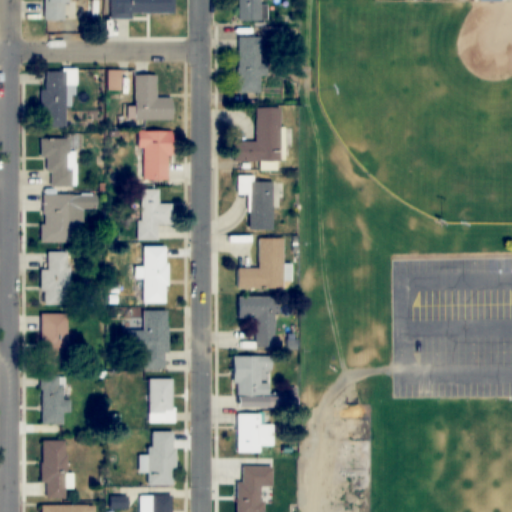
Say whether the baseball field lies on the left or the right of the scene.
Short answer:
right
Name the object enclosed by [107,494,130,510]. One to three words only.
building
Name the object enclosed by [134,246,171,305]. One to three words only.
house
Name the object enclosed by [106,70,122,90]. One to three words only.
building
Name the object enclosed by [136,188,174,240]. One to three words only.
house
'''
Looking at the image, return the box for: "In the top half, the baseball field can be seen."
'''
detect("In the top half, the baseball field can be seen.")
[318,0,512,223]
